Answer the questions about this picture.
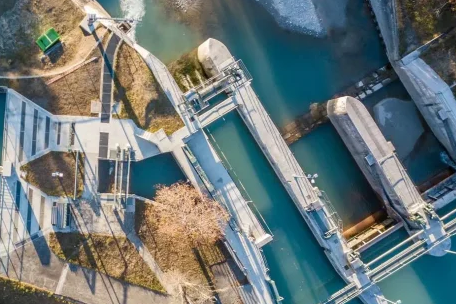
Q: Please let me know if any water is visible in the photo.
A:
Yes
